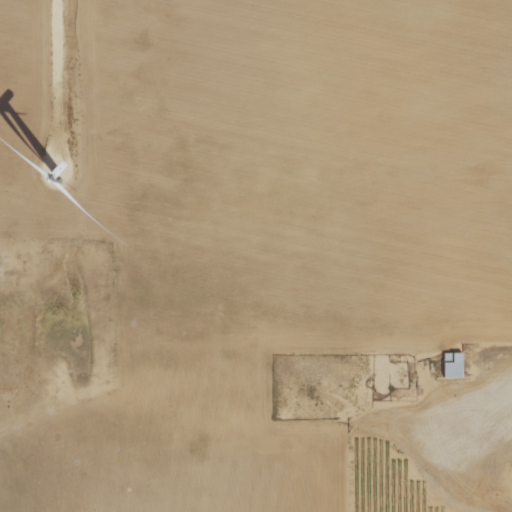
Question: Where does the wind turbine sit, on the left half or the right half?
left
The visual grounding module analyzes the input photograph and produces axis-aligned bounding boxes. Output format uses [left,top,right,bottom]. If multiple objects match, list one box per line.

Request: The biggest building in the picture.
[445,352,465,378]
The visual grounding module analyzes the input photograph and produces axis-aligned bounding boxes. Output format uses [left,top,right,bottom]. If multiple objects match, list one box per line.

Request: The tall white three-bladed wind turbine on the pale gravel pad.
[0,134,123,245]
